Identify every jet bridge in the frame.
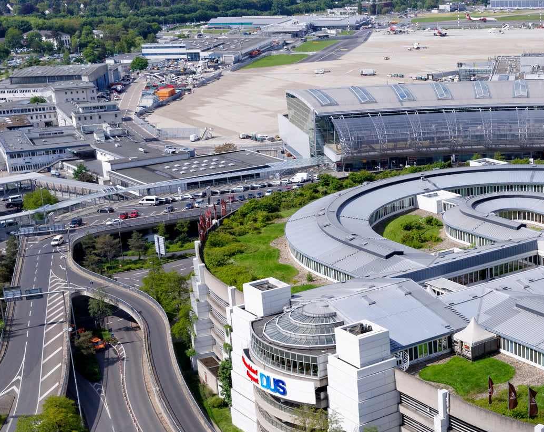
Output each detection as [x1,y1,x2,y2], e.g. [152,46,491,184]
[422,70,459,83]
[455,58,463,70]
